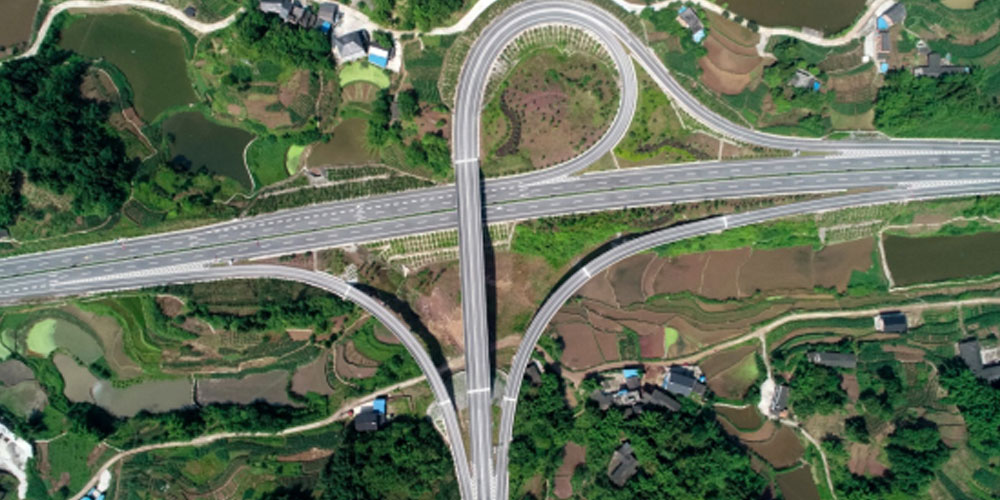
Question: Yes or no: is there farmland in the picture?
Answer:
Yes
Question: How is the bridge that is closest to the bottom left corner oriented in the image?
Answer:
on a diagonal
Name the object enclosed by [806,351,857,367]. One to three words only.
barn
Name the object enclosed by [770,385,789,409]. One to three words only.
house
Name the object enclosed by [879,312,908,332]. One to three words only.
house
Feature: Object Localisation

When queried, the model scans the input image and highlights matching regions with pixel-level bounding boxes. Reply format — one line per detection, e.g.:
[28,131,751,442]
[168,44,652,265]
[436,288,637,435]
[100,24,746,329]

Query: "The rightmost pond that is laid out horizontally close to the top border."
[725,0,867,37]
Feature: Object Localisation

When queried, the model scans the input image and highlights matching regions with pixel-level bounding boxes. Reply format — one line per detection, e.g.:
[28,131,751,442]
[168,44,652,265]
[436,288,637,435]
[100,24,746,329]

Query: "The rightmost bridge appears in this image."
[505,217,730,401]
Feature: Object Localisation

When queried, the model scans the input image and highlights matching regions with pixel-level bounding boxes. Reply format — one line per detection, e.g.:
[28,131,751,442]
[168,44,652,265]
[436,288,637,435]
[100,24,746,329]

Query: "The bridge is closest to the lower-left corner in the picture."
[343,288,450,406]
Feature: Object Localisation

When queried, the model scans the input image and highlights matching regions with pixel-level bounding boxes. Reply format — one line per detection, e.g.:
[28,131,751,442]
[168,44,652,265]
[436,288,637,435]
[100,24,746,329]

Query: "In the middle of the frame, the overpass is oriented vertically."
[455,160,490,392]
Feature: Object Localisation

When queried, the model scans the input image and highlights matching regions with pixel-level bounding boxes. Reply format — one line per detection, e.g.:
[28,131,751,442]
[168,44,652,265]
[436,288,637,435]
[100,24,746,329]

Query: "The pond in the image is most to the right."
[883,231,1000,287]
